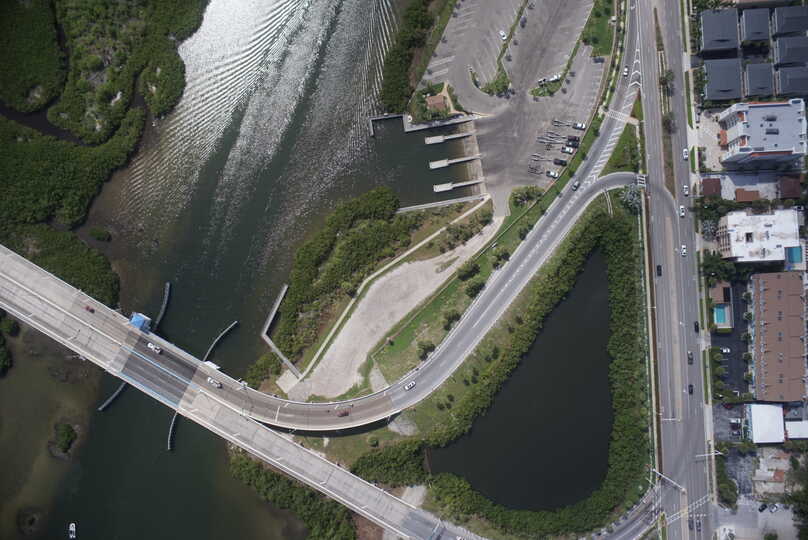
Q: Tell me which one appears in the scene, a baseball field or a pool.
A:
pool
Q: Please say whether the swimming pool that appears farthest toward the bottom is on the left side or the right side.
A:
right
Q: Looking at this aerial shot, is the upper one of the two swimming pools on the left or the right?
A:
right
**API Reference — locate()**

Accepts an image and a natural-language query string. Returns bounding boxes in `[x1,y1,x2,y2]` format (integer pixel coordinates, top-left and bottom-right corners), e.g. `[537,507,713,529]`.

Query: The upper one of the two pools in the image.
[784,244,806,270]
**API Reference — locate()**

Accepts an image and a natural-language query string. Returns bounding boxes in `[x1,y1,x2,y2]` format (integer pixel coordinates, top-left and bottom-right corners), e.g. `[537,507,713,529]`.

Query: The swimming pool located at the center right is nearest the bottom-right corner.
[712,302,734,328]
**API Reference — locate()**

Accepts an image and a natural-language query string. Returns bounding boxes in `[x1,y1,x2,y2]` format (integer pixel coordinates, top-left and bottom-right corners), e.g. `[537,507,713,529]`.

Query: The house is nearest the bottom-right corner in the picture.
[750,468,786,482]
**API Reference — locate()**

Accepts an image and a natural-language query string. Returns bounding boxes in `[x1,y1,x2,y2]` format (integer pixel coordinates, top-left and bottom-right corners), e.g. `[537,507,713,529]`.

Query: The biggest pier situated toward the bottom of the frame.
[262,285,301,379]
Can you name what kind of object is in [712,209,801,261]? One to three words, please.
building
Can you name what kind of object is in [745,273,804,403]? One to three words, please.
building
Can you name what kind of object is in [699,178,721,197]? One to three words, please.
house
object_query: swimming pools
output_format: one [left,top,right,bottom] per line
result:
[712,302,734,328]
[784,244,806,270]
